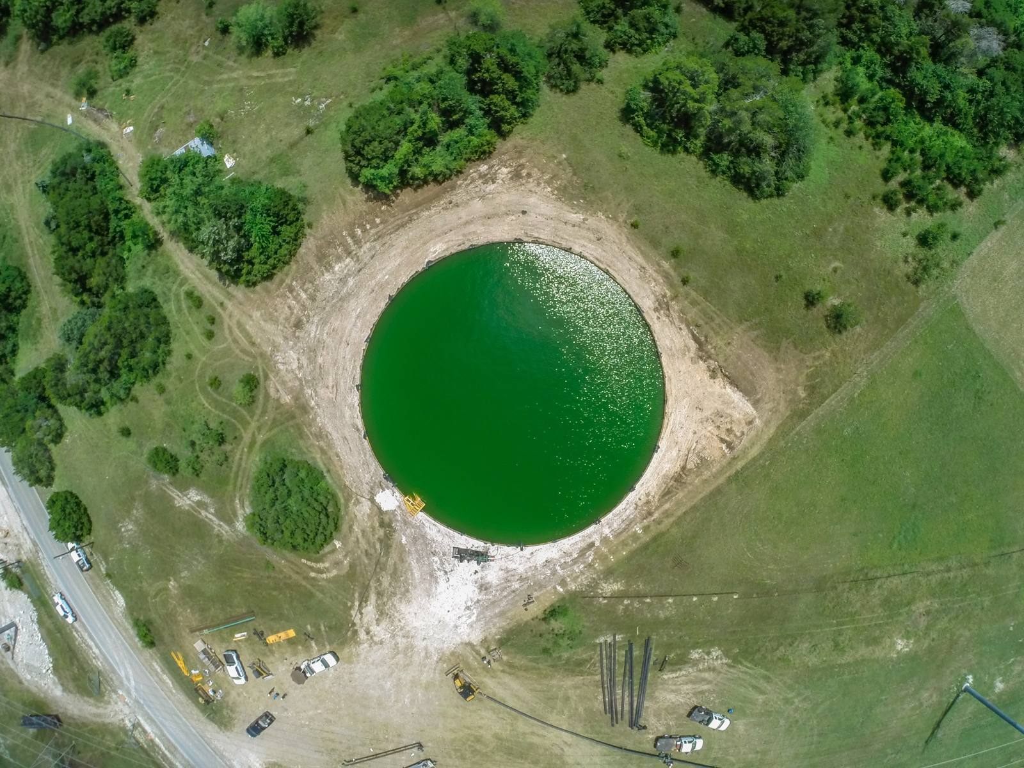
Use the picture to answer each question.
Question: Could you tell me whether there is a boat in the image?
No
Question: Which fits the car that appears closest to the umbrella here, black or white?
white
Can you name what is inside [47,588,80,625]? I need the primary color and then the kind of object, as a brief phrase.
white truck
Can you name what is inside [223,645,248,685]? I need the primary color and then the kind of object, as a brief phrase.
white truck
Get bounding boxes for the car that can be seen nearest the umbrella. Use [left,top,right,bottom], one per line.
[301,651,337,676]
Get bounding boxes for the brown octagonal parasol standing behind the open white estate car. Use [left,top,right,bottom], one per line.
[292,668,308,685]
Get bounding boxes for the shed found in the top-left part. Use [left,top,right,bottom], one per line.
[167,137,217,163]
